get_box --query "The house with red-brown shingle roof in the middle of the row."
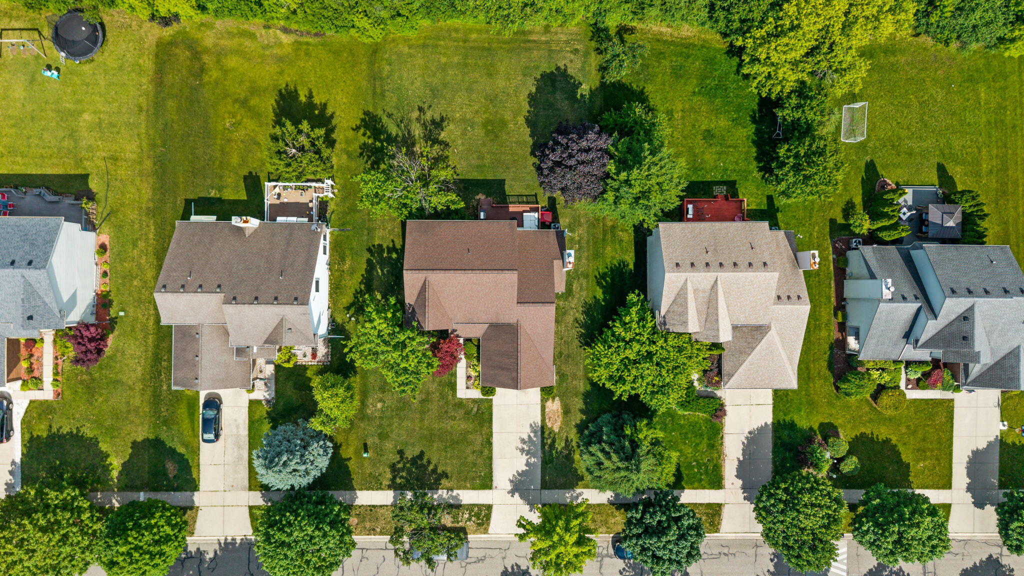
[402,219,574,394]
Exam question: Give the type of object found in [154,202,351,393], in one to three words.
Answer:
house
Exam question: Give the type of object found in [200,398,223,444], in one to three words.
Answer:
car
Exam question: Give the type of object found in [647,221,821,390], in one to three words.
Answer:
house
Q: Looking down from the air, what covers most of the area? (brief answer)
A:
grass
